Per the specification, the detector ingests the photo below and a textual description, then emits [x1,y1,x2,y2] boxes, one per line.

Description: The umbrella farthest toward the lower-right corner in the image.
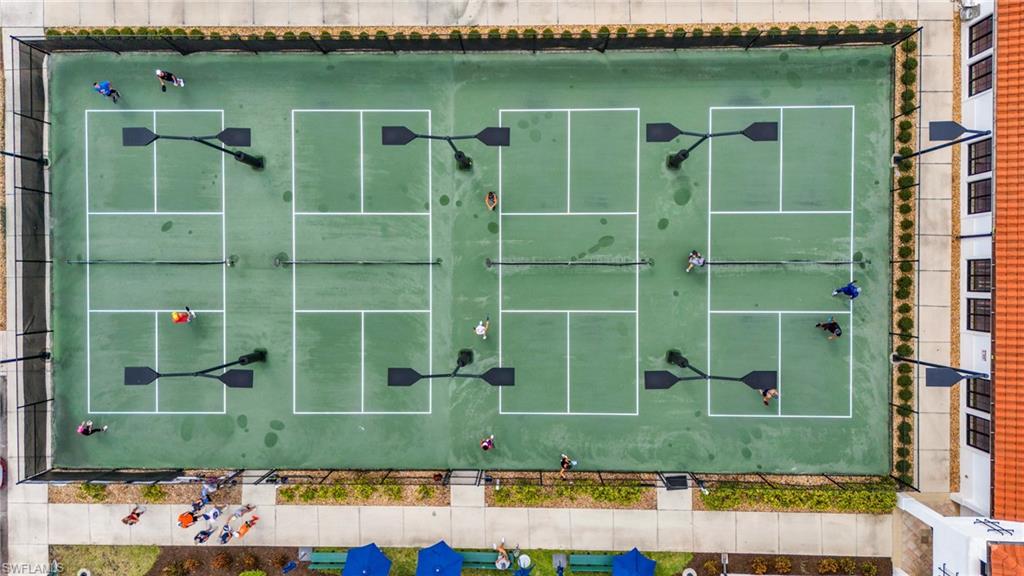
[608,545,658,576]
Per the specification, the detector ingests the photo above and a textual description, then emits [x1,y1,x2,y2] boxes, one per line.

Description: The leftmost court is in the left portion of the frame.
[86,110,226,413]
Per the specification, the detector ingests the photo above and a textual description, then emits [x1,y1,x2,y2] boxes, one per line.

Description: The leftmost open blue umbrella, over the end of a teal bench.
[340,541,394,576]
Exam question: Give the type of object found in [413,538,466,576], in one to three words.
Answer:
umbrella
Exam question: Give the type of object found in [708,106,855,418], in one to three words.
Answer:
sports court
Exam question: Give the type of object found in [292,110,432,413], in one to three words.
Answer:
sports court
